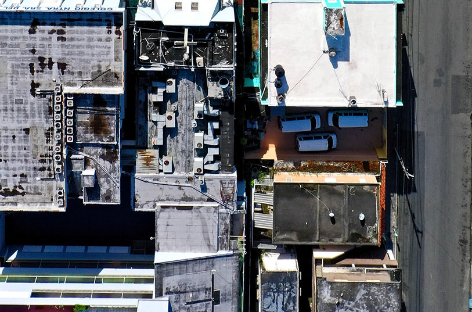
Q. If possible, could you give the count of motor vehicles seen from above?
three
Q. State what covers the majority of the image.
buildings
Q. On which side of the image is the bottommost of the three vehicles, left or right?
right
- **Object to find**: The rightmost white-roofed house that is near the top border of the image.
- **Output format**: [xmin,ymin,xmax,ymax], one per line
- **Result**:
[256,0,403,107]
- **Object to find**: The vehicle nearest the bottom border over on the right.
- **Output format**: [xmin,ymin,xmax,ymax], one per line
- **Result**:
[295,127,335,151]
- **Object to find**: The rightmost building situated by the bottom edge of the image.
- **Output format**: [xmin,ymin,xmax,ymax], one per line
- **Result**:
[311,235,401,312]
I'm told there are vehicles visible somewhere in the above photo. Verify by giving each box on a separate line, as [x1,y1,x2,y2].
[279,109,319,132]
[295,127,335,151]
[327,107,368,128]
